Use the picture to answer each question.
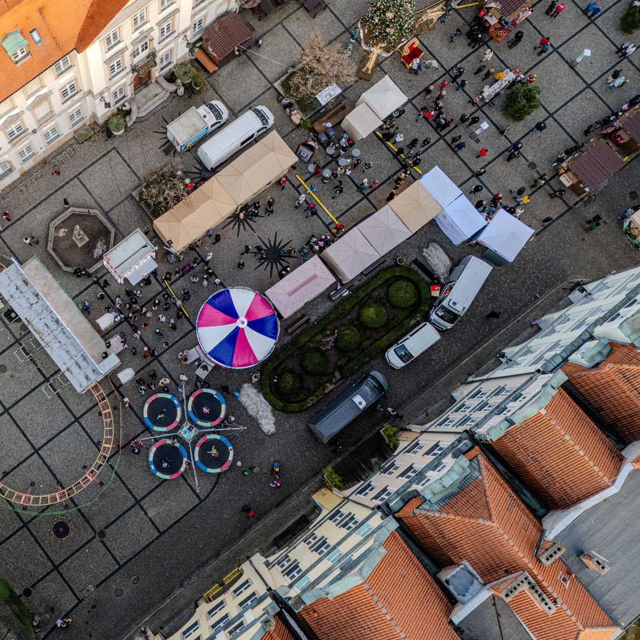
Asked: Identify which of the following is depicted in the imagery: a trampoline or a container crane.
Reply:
trampoline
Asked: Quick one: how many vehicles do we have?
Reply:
five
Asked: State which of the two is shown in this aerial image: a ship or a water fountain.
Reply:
water fountain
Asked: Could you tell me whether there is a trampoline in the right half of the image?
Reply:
No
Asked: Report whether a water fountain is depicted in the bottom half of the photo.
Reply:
No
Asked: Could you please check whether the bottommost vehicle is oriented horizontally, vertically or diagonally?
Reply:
diagonally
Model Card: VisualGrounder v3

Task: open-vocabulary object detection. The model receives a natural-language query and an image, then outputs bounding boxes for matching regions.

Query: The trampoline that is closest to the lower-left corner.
[149,439,187,479]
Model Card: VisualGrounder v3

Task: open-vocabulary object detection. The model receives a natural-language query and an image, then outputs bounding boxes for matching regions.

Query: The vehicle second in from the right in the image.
[383,322,446,372]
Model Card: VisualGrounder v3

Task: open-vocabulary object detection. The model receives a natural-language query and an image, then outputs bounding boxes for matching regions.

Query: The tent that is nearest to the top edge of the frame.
[359,75,408,122]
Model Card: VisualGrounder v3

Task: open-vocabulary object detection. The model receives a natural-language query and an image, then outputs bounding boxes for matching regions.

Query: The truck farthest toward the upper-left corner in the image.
[161,97,233,158]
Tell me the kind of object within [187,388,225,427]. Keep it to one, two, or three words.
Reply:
trampoline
